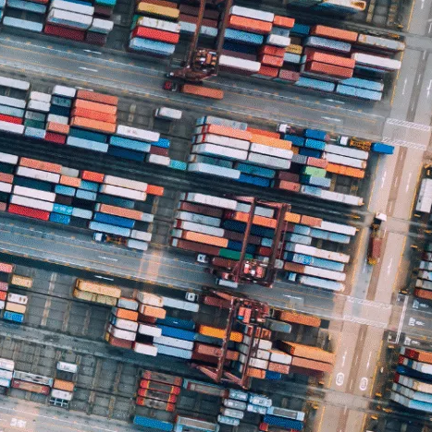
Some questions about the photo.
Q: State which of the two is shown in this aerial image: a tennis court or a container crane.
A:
container crane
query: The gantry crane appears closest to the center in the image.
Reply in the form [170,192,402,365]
[206,191,288,286]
